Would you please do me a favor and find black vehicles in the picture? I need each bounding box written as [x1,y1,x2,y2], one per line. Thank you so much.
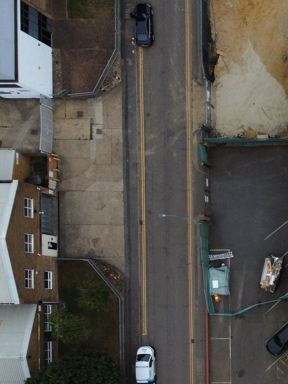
[135,3,158,48]
[266,324,288,354]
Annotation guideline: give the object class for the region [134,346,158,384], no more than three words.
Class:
vehicle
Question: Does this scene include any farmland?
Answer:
No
